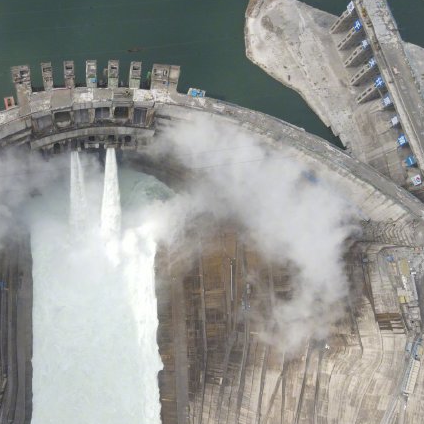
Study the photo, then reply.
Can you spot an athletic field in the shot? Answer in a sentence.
No, this view has no athletic field in it.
